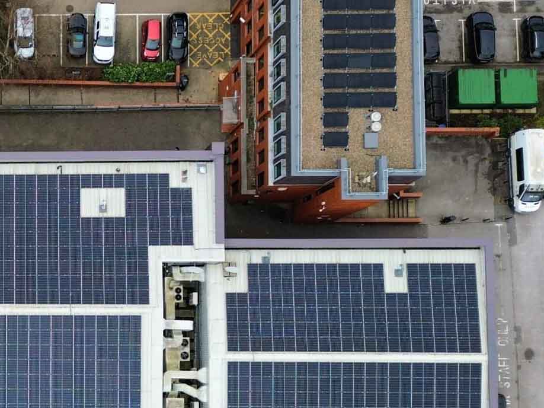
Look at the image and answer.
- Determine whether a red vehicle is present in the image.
Yes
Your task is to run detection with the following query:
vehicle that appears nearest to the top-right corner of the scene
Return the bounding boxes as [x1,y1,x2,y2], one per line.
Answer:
[520,15,544,63]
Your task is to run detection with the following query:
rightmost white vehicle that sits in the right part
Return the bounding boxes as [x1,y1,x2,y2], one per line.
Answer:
[508,130,544,211]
